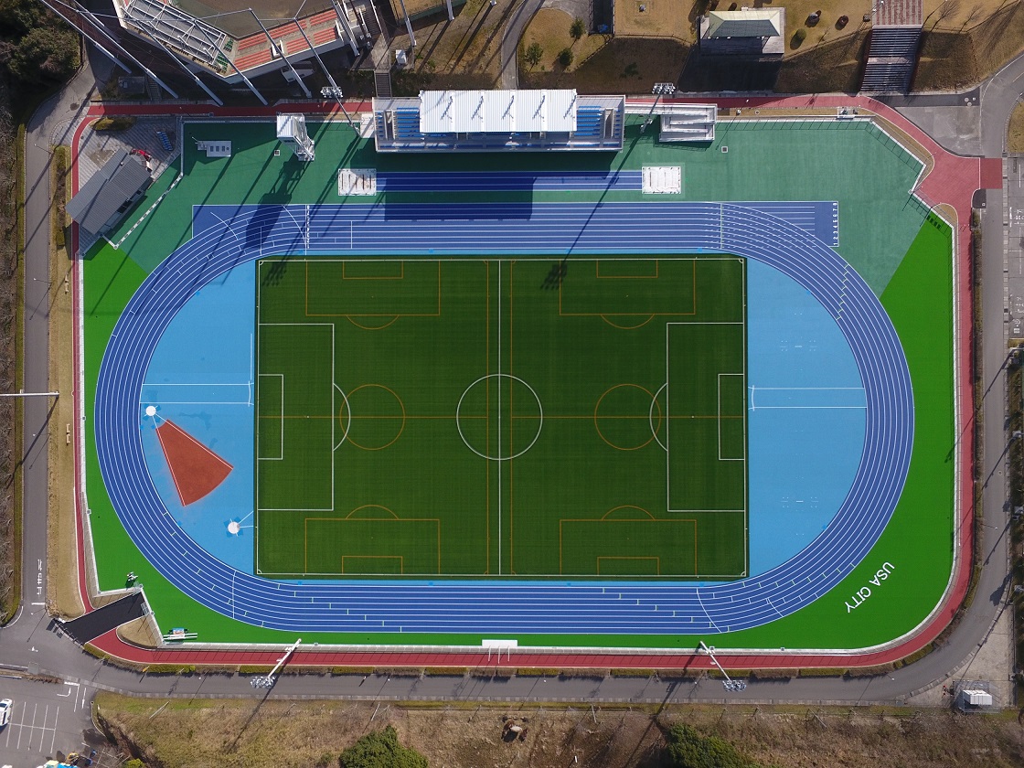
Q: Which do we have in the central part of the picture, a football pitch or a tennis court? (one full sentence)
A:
What appears in the central part of the picture is a football pitch.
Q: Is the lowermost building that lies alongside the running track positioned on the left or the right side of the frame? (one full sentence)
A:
It is on the left.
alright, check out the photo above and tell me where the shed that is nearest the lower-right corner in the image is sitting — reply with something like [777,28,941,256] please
[964,689,997,705]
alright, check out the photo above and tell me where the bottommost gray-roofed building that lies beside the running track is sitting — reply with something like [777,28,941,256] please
[66,148,160,259]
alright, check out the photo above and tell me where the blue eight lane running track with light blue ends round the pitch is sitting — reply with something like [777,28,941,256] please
[93,202,916,634]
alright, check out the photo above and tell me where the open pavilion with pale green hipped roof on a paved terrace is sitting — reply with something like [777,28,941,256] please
[699,6,785,56]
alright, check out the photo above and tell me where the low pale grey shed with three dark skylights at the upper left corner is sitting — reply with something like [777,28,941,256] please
[188,135,234,159]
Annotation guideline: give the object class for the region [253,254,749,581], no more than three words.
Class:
soccer field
